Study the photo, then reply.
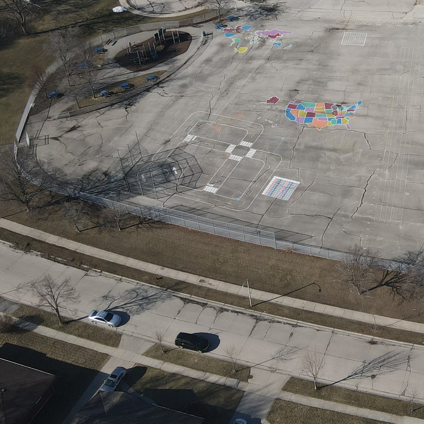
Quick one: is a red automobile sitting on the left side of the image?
No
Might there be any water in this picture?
No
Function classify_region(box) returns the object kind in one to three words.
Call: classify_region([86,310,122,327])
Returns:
car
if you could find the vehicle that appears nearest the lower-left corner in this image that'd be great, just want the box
[98,361,131,395]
